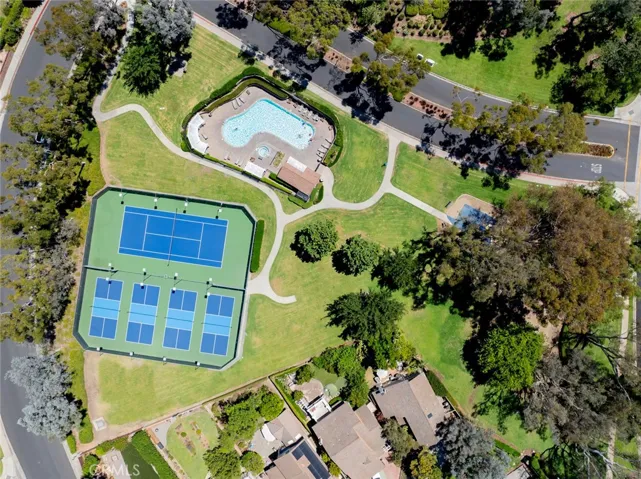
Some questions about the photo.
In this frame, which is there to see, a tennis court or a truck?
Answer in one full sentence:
The image shows a tennis court.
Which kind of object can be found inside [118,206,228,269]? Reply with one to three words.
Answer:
tennis court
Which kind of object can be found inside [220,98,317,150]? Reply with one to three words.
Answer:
swimming pool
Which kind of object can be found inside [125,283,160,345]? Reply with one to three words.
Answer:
sports court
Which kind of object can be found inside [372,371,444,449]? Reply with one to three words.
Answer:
house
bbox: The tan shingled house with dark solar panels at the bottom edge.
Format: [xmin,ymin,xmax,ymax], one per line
[266,436,332,479]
